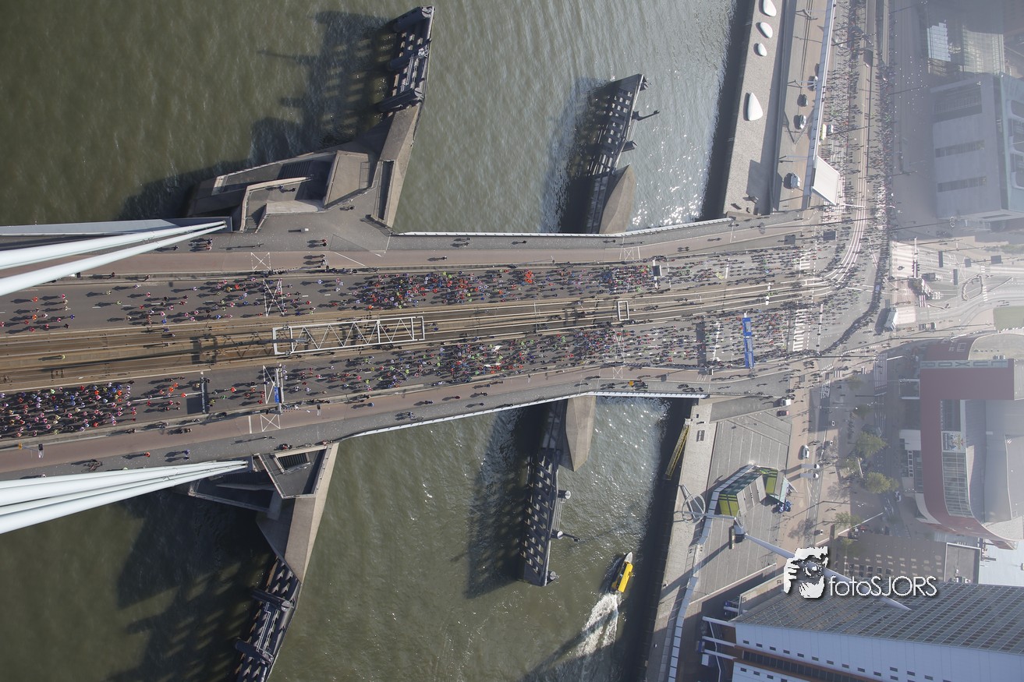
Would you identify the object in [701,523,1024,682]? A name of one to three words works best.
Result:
building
